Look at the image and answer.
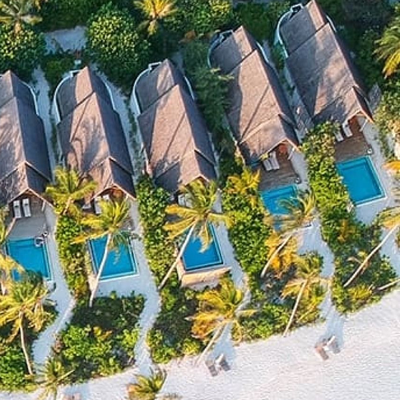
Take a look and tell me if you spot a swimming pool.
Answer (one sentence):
Yes, the photo shows a swimming pool.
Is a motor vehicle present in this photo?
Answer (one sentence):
No, this view has no motor vehicle in it.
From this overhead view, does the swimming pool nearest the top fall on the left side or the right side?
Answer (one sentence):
The swimming pool nearest the top sits on the right side.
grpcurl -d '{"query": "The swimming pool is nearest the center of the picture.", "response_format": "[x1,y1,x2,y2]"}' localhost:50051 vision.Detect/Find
[171,220,232,280]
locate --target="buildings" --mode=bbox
[212,27,320,225]
[0,69,62,284]
[272,0,395,198]
[48,67,149,276]
[127,58,235,265]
